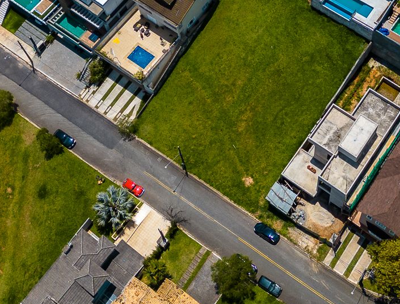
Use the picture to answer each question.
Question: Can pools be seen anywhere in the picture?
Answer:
Yes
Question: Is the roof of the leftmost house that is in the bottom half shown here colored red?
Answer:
No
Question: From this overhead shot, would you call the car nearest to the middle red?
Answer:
Yes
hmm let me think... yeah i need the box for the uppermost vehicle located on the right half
[250,218,283,244]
